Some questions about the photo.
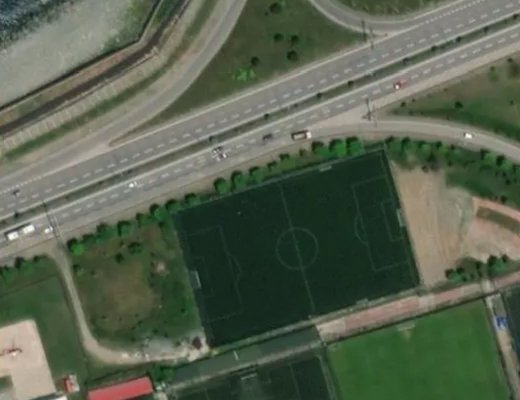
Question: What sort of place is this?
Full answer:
The area seen from above is a sports ground.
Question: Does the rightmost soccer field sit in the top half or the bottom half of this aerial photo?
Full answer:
You can find the rightmost soccer field in the bottom half.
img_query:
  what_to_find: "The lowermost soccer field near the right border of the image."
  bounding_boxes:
[328,300,513,400]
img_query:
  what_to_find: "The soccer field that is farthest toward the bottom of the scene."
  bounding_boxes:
[176,354,331,400]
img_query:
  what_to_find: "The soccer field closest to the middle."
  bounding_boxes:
[176,151,420,346]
